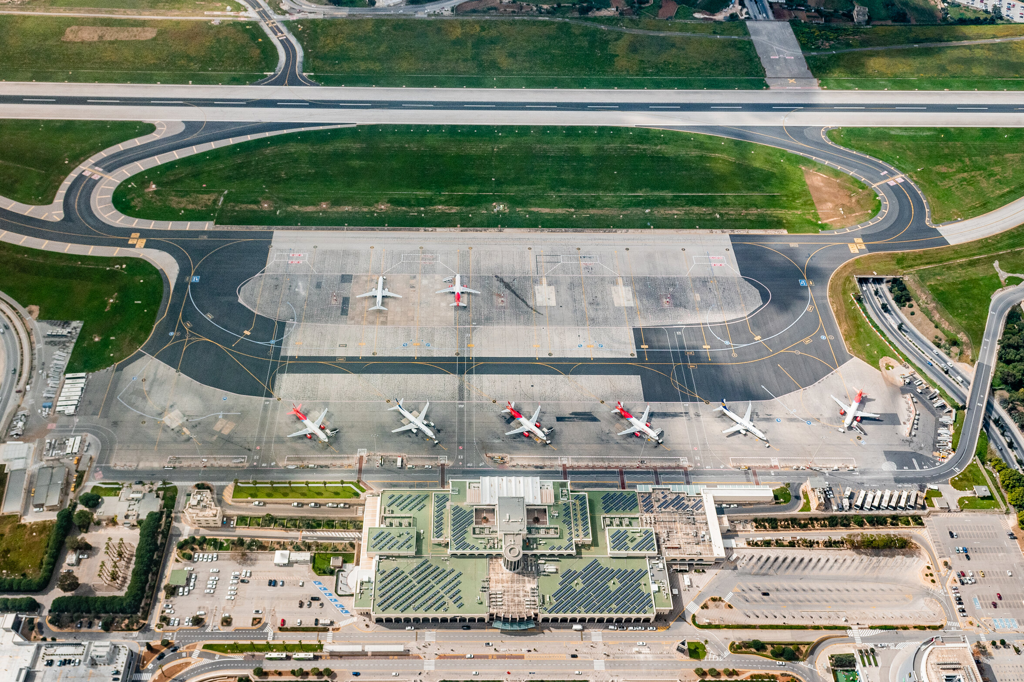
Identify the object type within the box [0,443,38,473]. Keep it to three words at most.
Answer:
building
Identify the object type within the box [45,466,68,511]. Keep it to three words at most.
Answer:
shed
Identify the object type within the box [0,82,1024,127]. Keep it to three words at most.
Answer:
runway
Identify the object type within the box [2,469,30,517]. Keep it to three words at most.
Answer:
shed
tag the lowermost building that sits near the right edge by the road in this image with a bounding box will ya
[909,634,980,682]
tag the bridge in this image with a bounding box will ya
[896,282,1024,484]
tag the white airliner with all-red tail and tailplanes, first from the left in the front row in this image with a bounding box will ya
[285,402,328,442]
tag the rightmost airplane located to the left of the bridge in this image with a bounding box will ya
[832,386,880,429]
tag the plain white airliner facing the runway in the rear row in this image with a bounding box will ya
[356,276,402,310]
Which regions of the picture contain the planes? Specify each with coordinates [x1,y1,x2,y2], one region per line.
[356,276,402,310]
[435,274,481,306]
[717,400,768,441]
[832,386,880,429]
[501,401,547,441]
[613,401,660,441]
[391,400,437,440]
[285,402,328,442]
